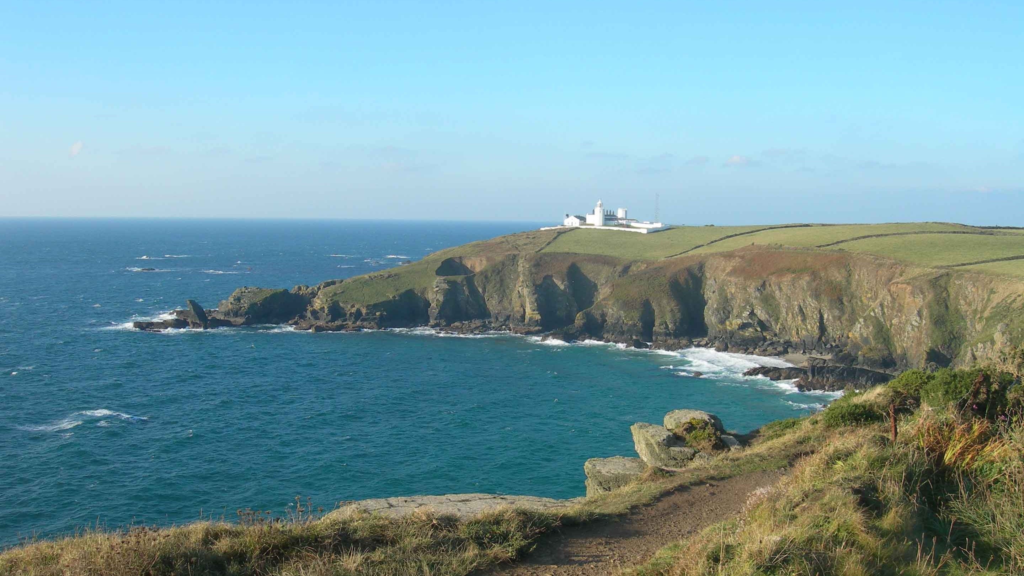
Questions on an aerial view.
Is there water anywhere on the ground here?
Yes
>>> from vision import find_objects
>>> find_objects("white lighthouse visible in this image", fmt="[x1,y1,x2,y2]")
[596,199,608,226]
